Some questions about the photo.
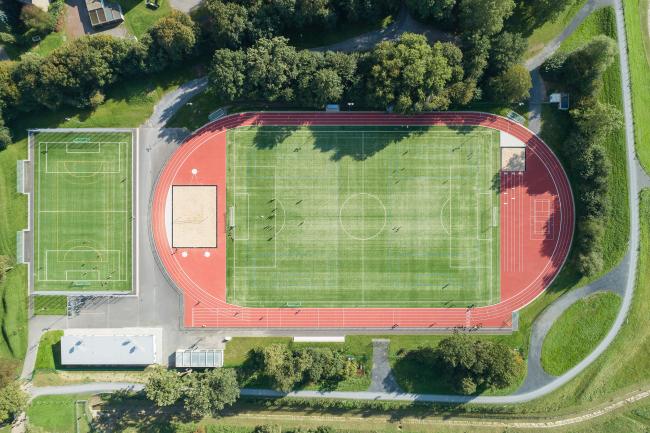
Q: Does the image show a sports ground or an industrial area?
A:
sports ground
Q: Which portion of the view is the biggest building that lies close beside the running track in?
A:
bottom left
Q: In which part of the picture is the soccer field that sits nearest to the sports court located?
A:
center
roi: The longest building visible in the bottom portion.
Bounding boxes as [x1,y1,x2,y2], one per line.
[61,335,157,364]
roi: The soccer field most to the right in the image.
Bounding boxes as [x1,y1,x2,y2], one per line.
[226,126,500,307]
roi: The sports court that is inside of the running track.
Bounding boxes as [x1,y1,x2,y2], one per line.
[529,194,554,241]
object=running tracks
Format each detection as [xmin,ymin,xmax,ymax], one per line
[150,111,576,328]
